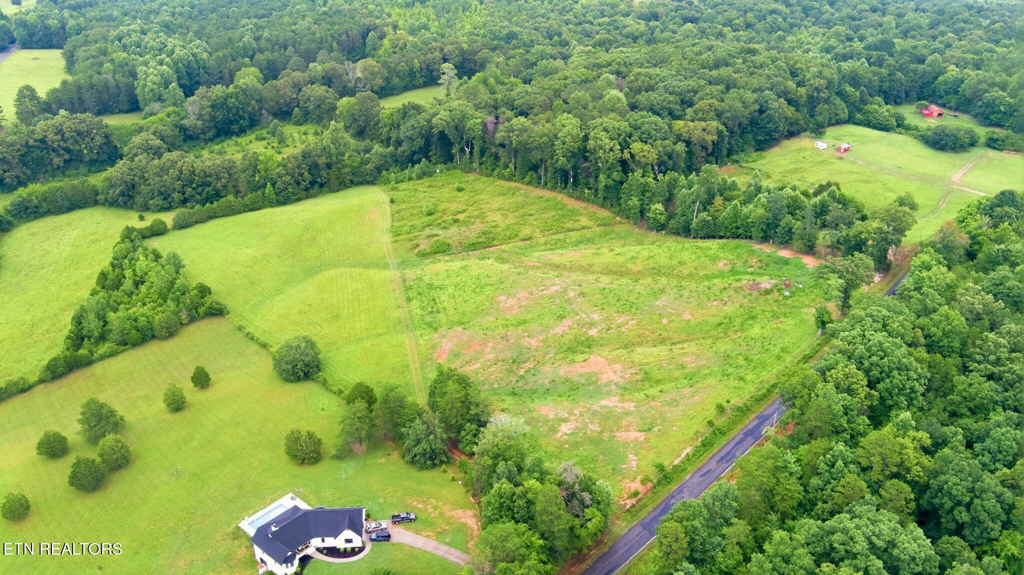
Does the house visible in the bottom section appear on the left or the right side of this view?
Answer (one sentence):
You can find the house visible in the bottom section on the left side of the picture.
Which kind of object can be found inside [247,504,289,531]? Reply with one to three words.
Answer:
swimming pool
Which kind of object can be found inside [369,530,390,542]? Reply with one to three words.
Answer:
vehicle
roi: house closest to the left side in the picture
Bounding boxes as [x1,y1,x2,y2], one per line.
[250,507,368,575]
